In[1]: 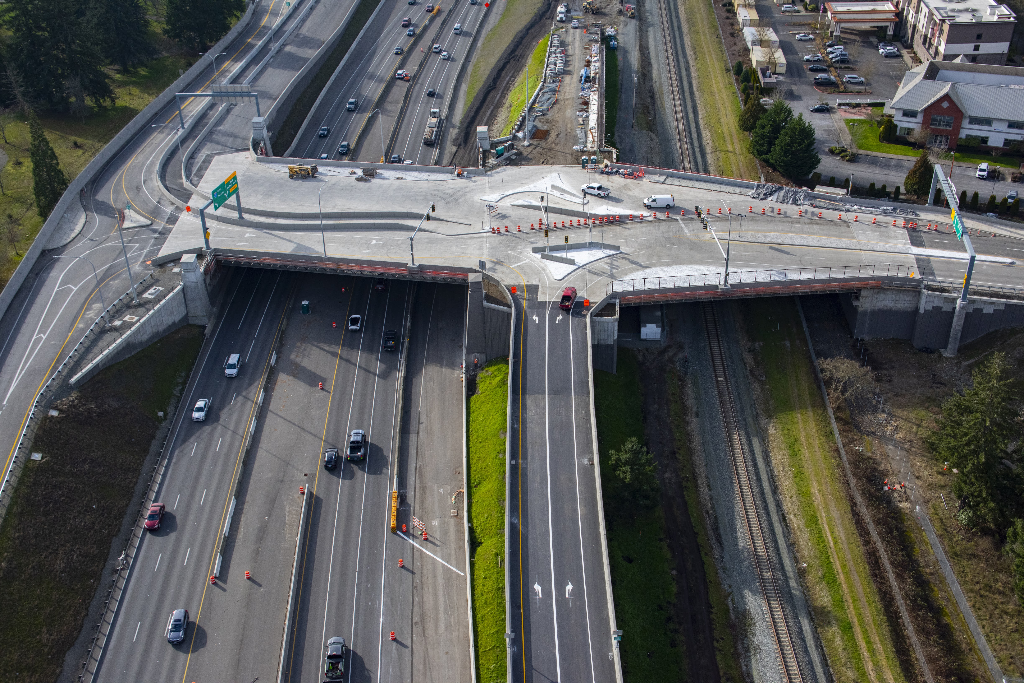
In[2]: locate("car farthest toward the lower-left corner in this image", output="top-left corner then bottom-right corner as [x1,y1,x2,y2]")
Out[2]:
[167,608,189,644]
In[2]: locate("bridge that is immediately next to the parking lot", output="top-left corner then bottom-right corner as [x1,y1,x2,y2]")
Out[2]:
[151,145,1024,376]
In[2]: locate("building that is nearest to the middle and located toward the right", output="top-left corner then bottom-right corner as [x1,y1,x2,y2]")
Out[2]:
[636,307,664,339]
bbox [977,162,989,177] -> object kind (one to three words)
vehicle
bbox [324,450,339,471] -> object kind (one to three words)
car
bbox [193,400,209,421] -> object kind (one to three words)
car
